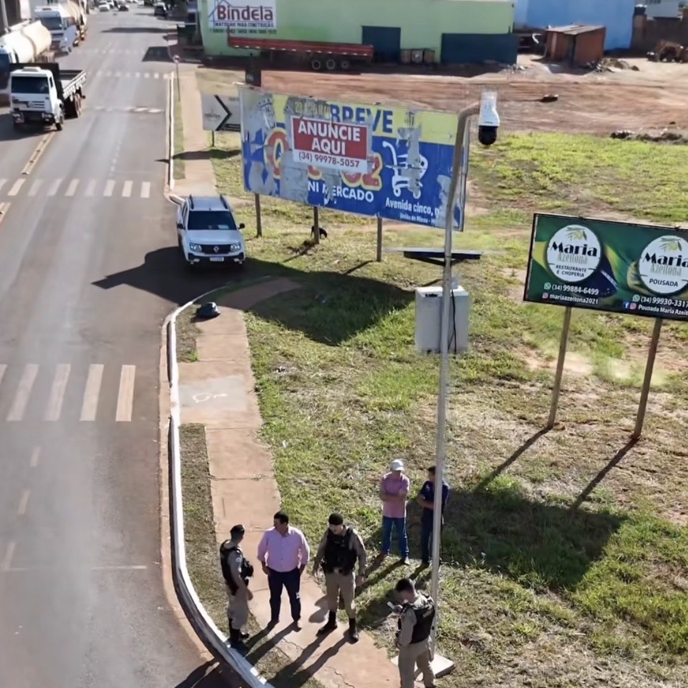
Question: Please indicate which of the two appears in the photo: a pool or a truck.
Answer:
truck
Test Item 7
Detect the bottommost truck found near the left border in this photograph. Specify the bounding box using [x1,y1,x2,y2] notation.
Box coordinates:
[2,64,86,126]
